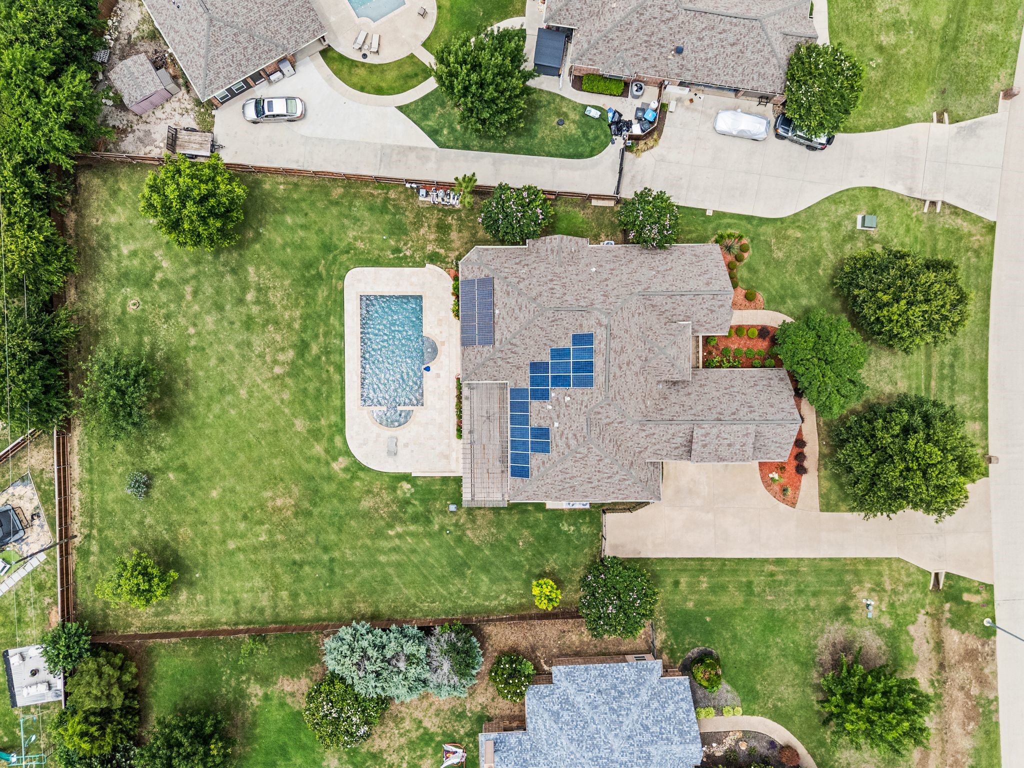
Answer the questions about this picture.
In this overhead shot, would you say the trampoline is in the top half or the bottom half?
bottom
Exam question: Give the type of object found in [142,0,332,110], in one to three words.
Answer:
house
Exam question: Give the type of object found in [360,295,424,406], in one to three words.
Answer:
swimming pool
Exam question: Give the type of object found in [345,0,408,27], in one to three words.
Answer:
swimming pool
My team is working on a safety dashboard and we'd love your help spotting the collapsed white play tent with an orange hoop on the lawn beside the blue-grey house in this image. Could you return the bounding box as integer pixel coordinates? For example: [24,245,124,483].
[441,743,466,768]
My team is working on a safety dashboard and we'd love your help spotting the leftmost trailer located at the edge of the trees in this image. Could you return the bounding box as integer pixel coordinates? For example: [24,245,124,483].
[164,121,226,158]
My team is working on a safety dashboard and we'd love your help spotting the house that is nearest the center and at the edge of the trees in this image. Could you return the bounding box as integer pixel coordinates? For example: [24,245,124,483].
[459,234,802,502]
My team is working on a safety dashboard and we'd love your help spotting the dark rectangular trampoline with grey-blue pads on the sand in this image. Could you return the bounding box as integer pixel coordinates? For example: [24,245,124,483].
[0,505,28,545]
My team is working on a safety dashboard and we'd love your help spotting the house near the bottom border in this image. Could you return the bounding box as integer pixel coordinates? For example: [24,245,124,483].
[478,647,702,768]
